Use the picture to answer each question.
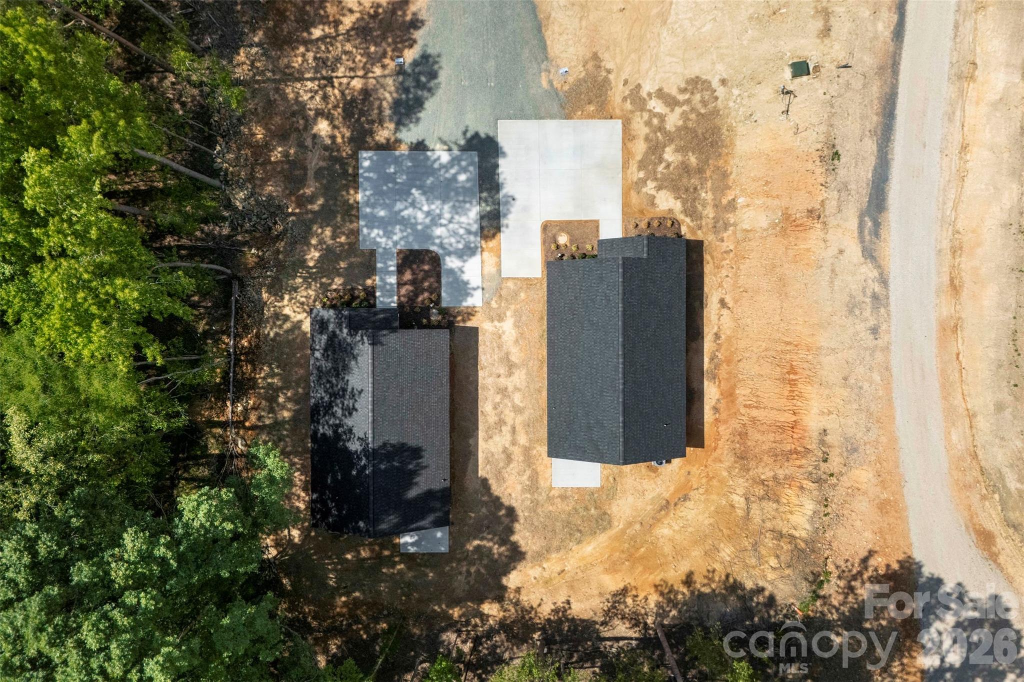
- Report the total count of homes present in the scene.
2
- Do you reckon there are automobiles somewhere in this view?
No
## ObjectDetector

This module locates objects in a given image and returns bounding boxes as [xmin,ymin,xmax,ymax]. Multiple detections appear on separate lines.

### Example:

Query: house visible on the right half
[547,237,685,462]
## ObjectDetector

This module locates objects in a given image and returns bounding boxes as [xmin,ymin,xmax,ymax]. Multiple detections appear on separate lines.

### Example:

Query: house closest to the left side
[311,307,450,535]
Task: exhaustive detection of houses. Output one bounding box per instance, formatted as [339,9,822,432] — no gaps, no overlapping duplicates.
[311,307,450,535]
[547,237,685,462]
